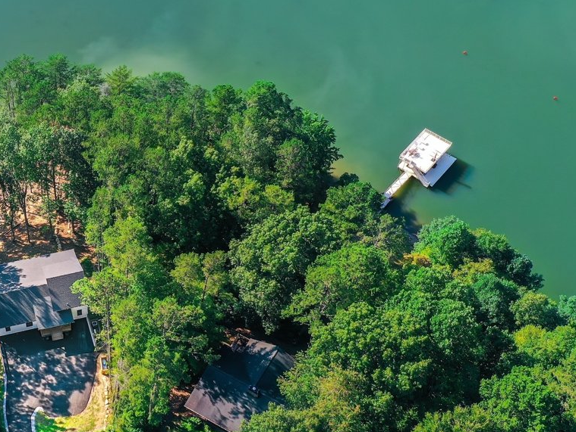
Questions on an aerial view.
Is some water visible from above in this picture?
Yes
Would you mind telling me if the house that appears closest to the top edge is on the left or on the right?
left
